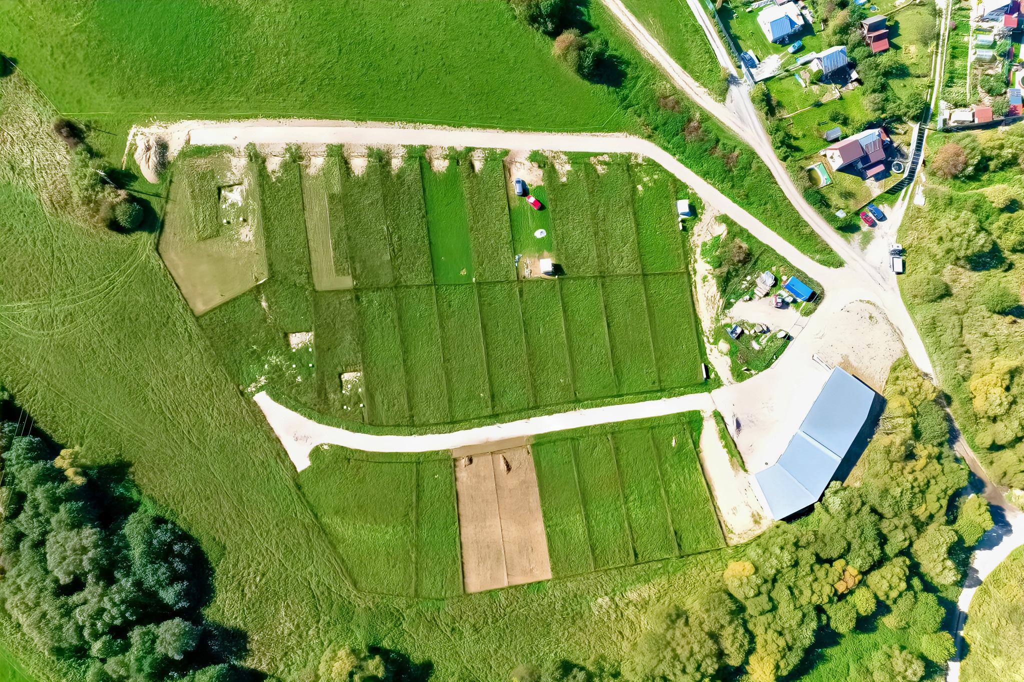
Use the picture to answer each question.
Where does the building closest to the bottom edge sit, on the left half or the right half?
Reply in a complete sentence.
The building closest to the bottom edge is on the right side of the image.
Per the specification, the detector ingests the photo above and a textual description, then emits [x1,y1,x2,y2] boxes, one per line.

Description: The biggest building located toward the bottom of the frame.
[749,366,875,520]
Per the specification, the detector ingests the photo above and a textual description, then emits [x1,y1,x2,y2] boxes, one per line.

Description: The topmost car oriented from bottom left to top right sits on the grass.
[786,39,803,55]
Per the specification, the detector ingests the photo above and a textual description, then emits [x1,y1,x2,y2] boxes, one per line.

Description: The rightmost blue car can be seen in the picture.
[867,203,884,221]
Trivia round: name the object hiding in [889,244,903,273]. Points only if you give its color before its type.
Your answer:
white vehicle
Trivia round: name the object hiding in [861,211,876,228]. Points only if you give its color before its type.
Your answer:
pink car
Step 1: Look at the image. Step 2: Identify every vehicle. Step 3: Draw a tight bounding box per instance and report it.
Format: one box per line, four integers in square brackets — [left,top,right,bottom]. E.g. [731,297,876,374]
[786,39,803,55]
[867,203,884,221]
[861,211,876,228]
[527,195,542,210]
[741,51,756,69]
[772,296,783,309]
[514,178,523,197]
[889,244,903,273]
